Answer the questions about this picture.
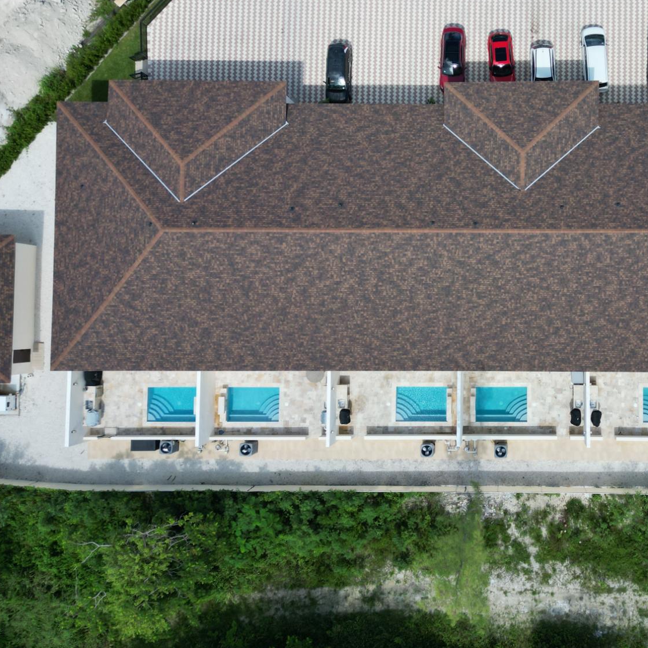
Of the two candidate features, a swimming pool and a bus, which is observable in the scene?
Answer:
swimming pool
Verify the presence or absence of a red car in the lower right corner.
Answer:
No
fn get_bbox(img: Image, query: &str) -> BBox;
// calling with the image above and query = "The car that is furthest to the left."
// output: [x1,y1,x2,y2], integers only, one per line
[323,41,355,101]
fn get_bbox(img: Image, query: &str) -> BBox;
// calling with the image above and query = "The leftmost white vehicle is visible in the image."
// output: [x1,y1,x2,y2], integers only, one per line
[529,42,559,82]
